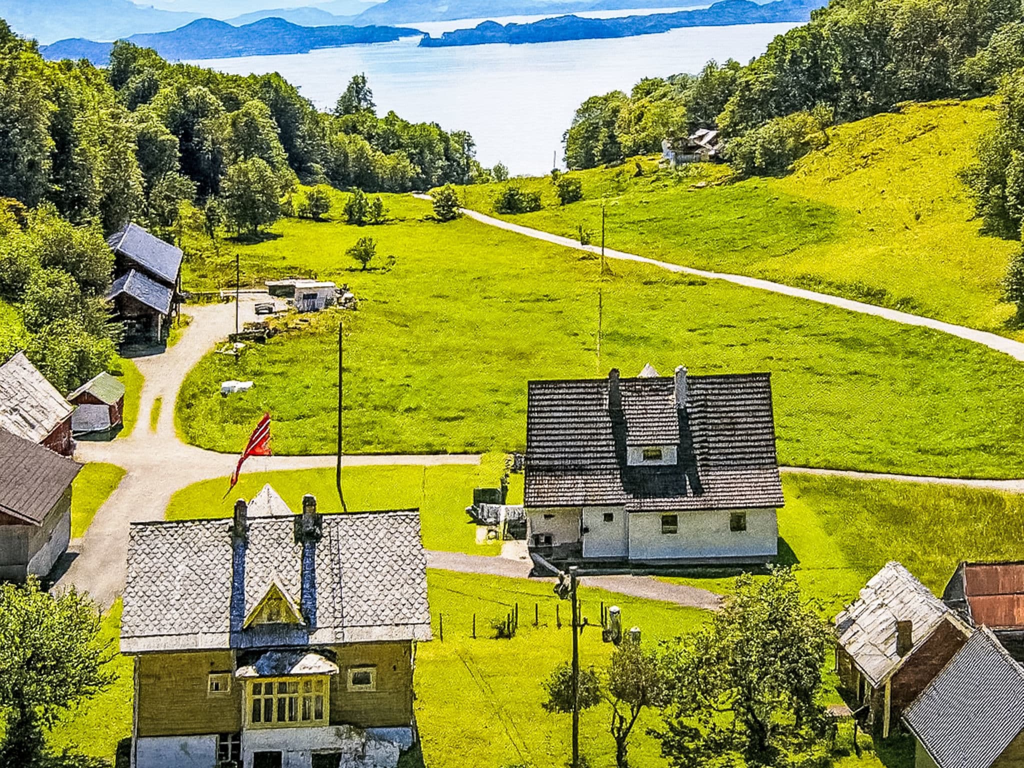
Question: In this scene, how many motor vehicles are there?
1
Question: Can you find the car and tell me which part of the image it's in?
left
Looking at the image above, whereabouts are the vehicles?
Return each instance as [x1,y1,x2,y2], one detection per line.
[253,295,276,318]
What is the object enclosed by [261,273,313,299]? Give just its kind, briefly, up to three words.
building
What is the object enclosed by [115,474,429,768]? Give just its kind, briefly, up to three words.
house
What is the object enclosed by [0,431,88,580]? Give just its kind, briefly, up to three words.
building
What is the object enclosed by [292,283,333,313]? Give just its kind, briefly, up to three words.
shed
